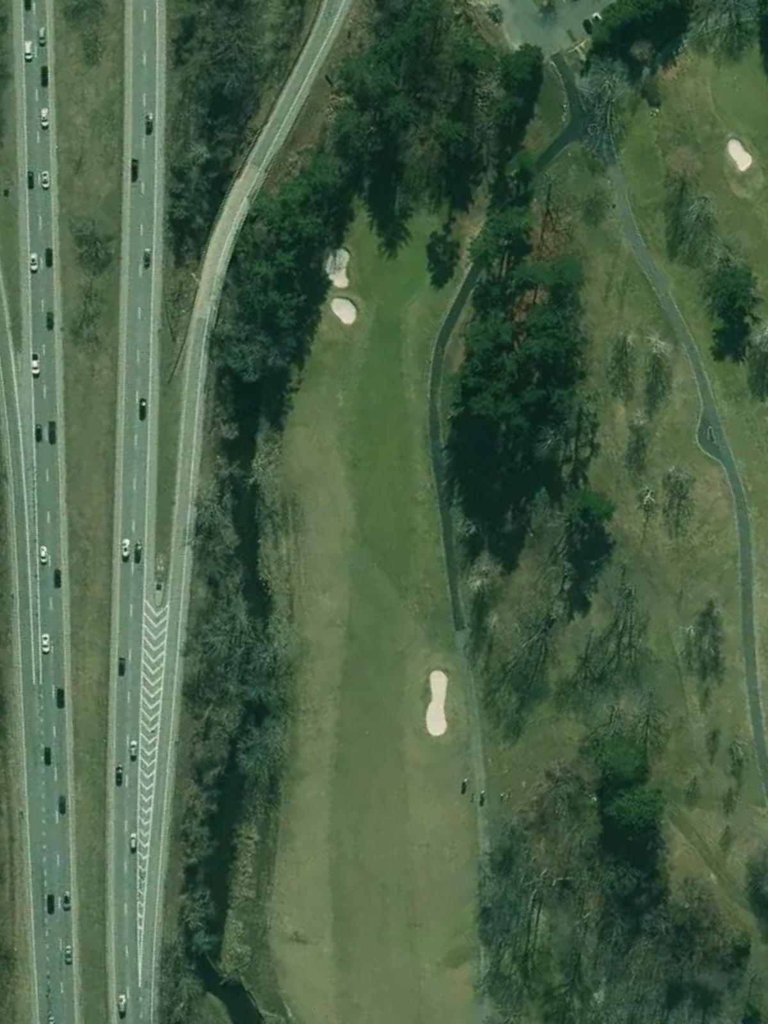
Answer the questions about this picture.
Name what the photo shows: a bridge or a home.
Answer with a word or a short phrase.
bridge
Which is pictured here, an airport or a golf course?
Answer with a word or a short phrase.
golf course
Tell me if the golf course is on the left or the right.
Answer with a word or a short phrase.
right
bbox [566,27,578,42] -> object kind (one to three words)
vehicle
